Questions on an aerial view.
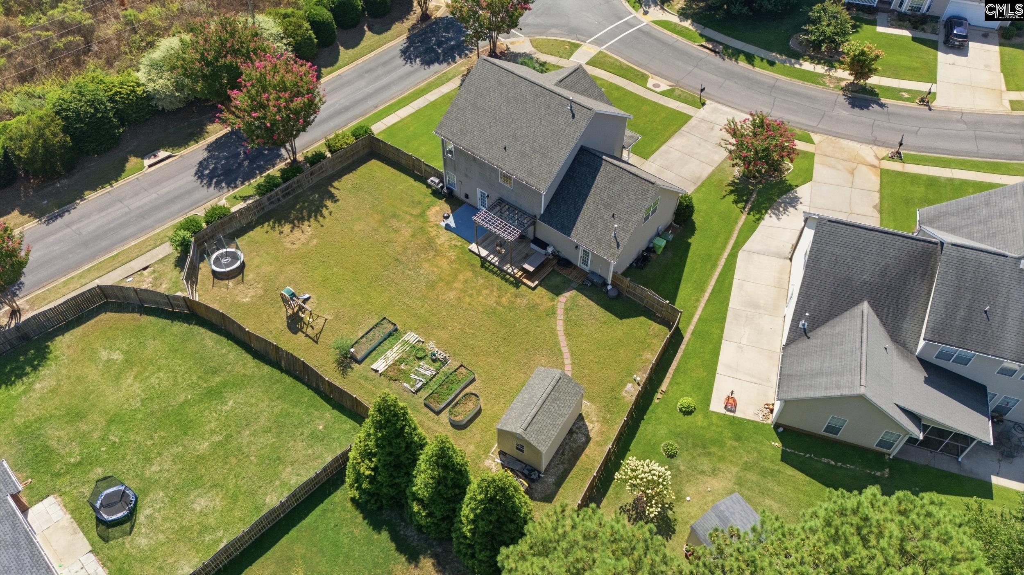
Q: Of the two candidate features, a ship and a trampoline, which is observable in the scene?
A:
trampoline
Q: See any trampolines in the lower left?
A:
Yes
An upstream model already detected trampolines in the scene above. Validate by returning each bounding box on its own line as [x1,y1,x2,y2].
[202,232,244,279]
[81,477,138,530]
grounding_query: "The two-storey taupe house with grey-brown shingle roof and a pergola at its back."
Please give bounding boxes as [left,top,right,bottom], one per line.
[433,58,686,287]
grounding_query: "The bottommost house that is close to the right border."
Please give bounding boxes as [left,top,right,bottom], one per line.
[768,165,1024,468]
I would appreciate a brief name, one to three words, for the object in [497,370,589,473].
shed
